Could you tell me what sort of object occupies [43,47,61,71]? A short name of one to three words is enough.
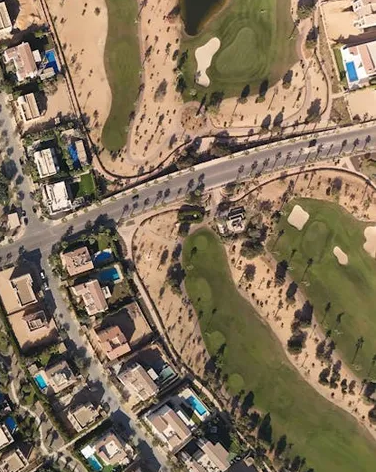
swimming pool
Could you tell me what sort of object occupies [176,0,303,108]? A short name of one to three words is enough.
golf course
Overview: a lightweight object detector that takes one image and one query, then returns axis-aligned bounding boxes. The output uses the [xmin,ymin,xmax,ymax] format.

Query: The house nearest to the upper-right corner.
[348,0,376,33]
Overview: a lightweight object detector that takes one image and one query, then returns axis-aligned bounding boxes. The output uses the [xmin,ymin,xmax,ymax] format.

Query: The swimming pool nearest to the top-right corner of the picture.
[339,47,374,89]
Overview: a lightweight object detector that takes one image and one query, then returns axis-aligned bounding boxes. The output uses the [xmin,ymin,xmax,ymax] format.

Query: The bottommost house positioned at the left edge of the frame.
[0,446,32,472]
